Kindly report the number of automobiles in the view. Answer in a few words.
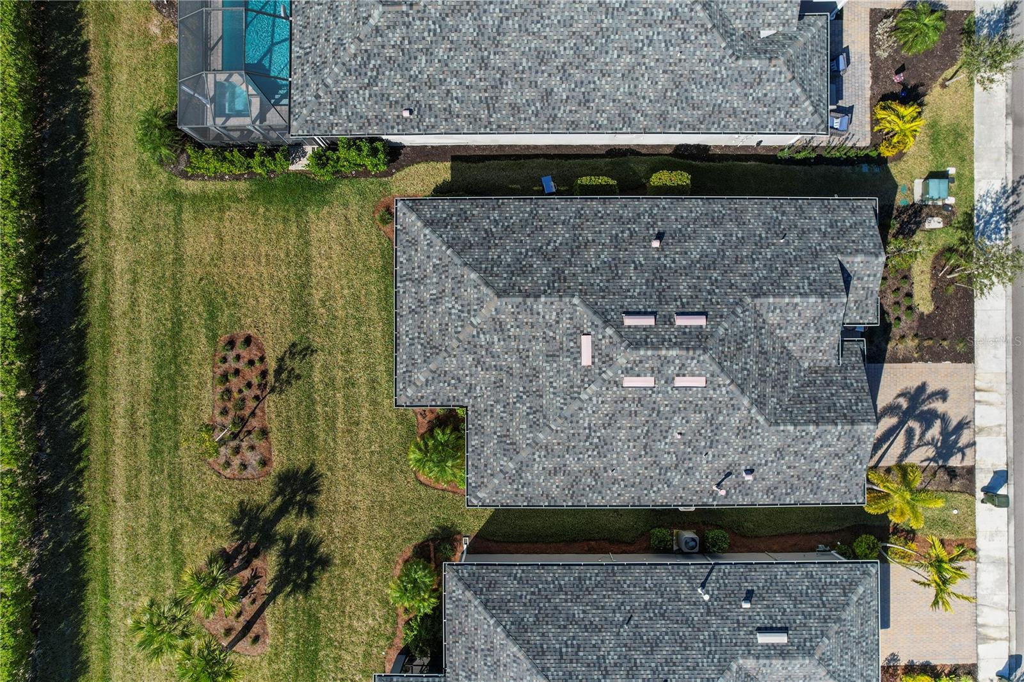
none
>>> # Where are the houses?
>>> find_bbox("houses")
[394,197,882,510]
[372,550,881,682]
[290,0,851,147]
